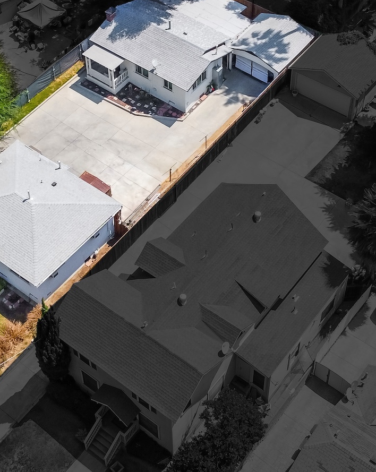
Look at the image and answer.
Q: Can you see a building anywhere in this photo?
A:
Yes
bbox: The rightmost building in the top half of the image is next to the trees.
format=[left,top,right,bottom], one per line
[289,31,376,118]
